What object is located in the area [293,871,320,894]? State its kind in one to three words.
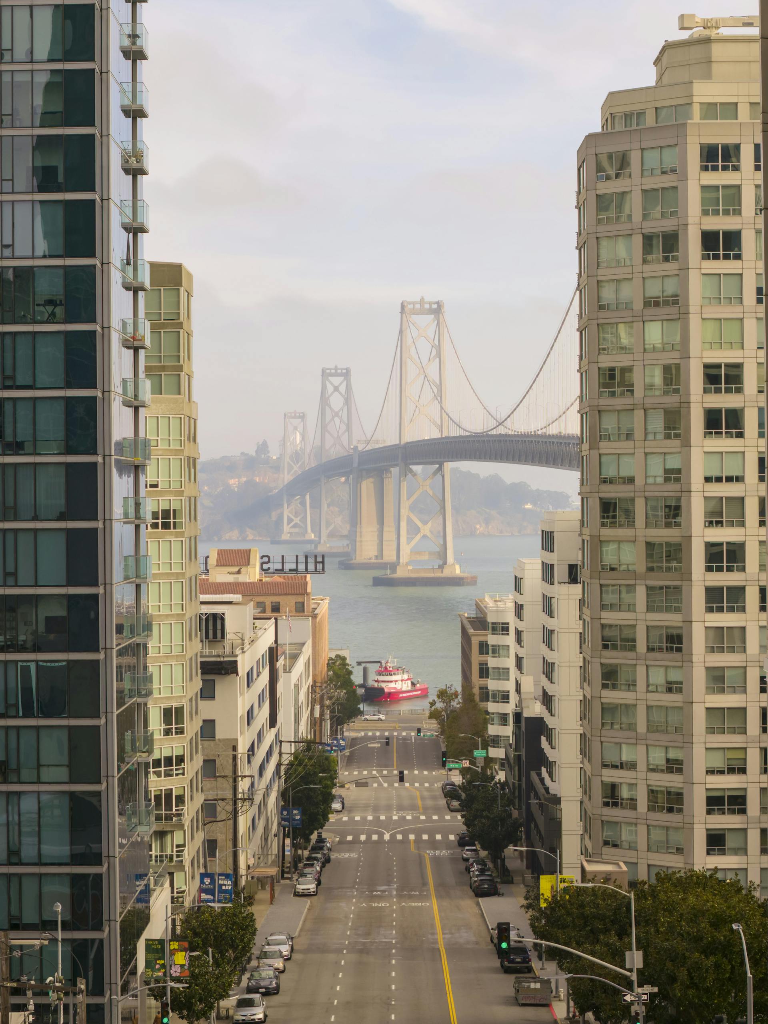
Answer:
car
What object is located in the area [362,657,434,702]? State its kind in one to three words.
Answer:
boat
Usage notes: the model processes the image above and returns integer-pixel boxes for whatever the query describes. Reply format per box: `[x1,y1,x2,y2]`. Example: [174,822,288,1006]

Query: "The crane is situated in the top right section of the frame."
[680,12,757,34]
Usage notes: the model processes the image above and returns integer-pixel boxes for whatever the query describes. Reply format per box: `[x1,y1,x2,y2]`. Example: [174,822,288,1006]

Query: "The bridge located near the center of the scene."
[268,250,605,675]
